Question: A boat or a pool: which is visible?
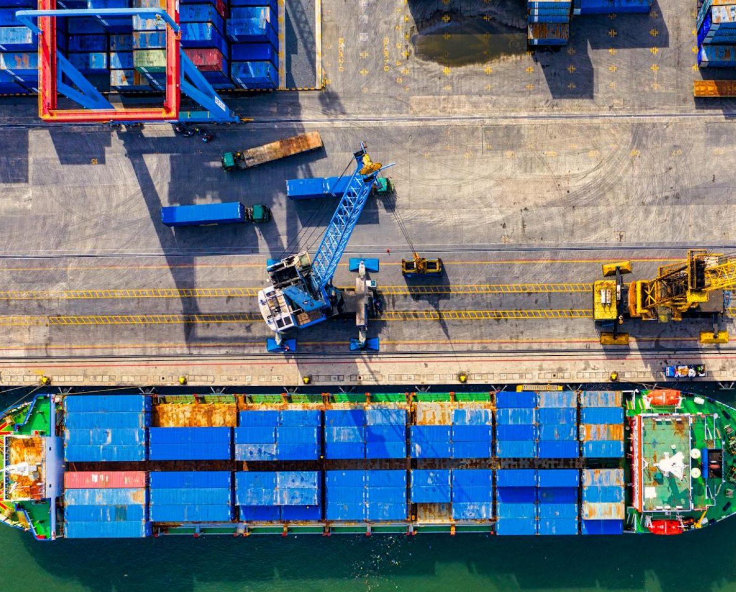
boat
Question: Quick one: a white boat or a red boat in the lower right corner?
red boat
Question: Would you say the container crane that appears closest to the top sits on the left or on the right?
left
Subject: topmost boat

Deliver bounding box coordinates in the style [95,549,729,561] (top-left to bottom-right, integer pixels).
[647,389,681,406]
